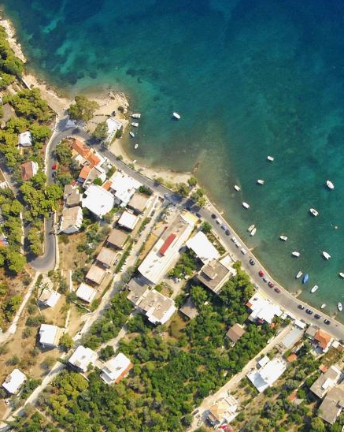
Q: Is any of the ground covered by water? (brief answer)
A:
Yes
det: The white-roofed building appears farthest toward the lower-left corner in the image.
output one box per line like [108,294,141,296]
[2,368,30,394]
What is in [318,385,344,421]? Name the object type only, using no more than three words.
building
